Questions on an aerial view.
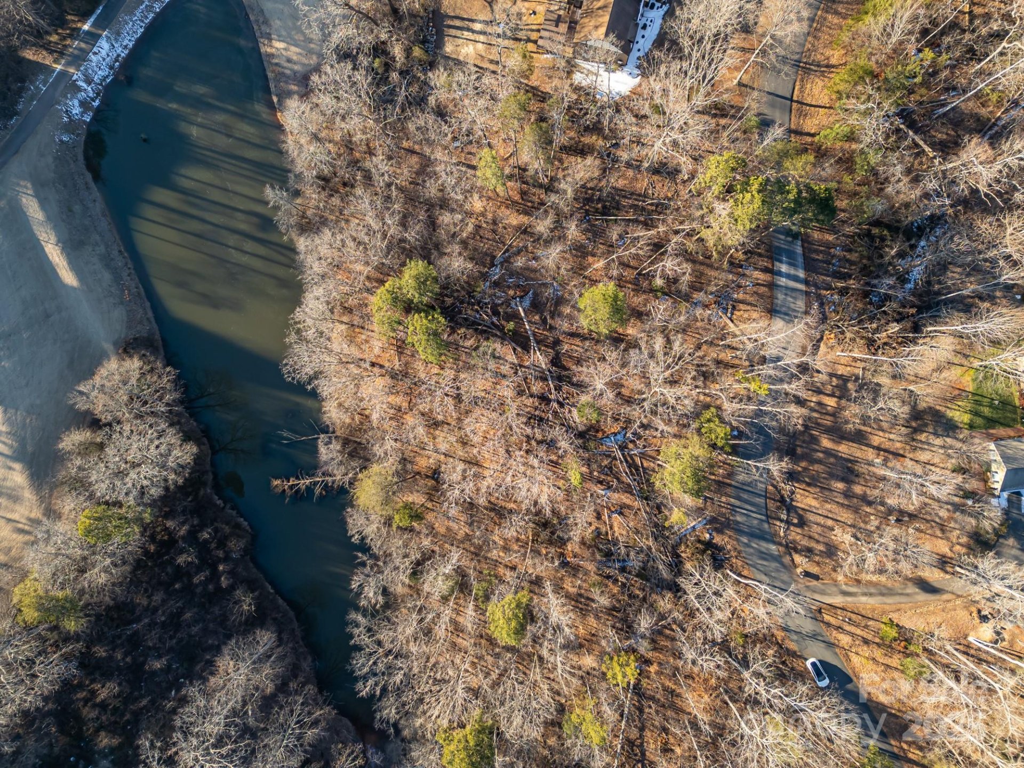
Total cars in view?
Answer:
1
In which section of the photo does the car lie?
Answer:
bottom right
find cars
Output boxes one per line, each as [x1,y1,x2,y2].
[806,655,829,687]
